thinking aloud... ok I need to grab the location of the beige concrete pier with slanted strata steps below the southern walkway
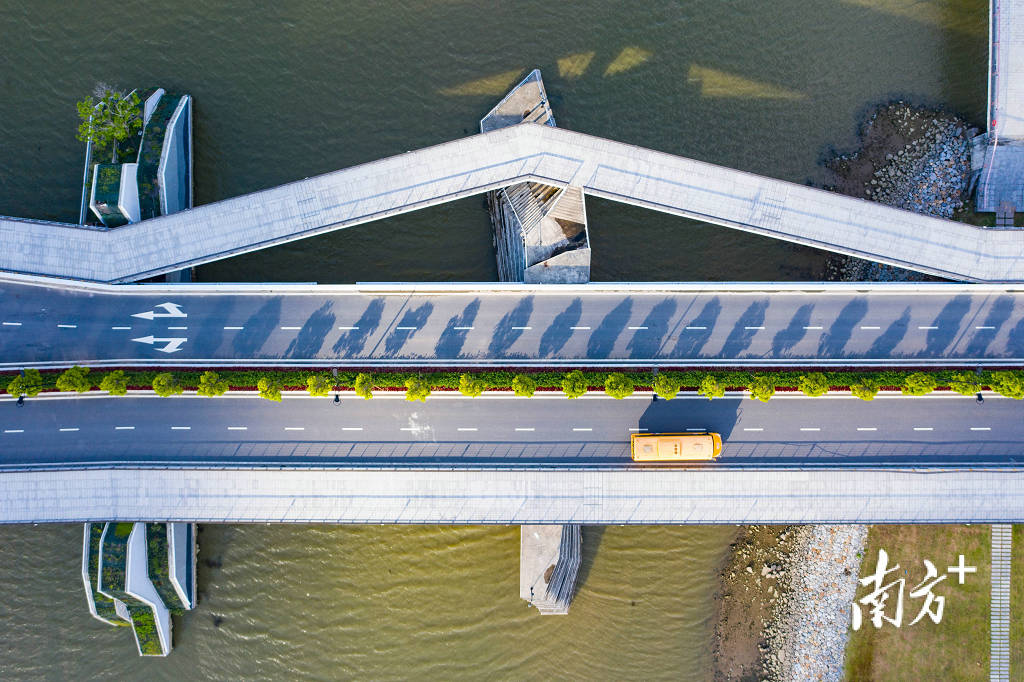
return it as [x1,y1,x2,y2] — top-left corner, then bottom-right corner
[519,524,583,614]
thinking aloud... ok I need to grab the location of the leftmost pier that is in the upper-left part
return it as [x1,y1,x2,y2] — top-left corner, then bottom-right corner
[81,89,195,226]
